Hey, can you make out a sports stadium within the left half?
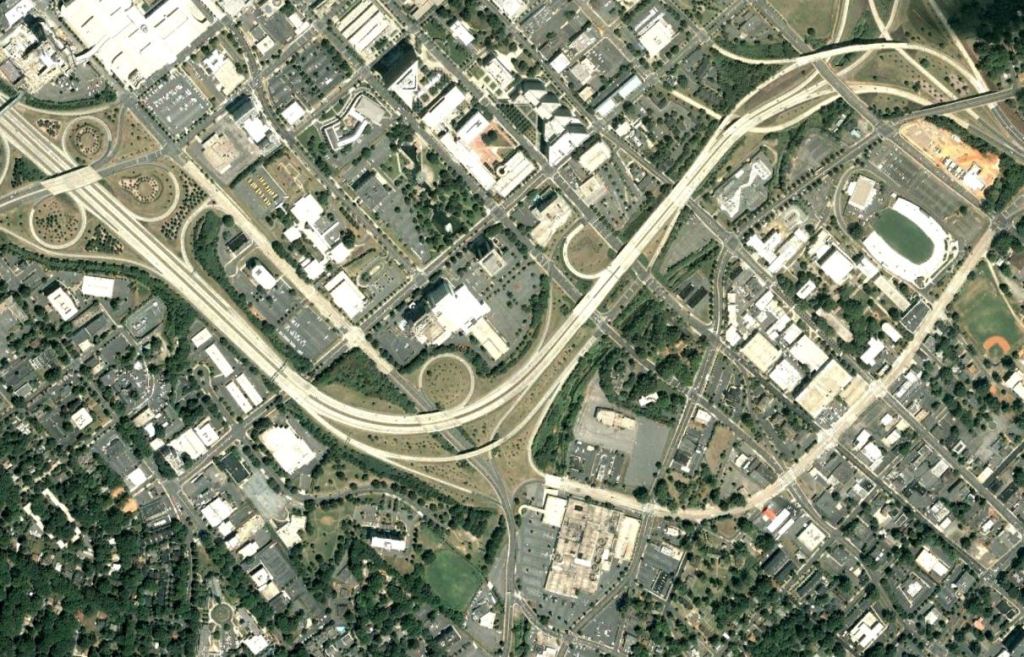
No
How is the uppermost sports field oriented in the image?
diagonally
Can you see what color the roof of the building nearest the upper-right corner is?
white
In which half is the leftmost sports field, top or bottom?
bottom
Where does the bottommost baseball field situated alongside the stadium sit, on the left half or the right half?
right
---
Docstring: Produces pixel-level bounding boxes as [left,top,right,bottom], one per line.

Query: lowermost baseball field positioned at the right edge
[958,268,1024,362]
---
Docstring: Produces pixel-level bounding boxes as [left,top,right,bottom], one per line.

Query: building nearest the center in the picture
[472,317,509,360]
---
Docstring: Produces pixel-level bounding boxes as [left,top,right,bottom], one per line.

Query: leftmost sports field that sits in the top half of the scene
[872,208,933,263]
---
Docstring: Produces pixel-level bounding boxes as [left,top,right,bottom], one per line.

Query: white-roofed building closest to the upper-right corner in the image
[964,162,985,190]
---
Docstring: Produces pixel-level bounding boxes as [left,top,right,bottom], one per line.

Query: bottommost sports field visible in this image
[424,547,485,610]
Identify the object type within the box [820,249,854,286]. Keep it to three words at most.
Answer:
building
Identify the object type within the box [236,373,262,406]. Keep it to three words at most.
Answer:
building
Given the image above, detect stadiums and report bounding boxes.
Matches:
[863,198,958,288]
